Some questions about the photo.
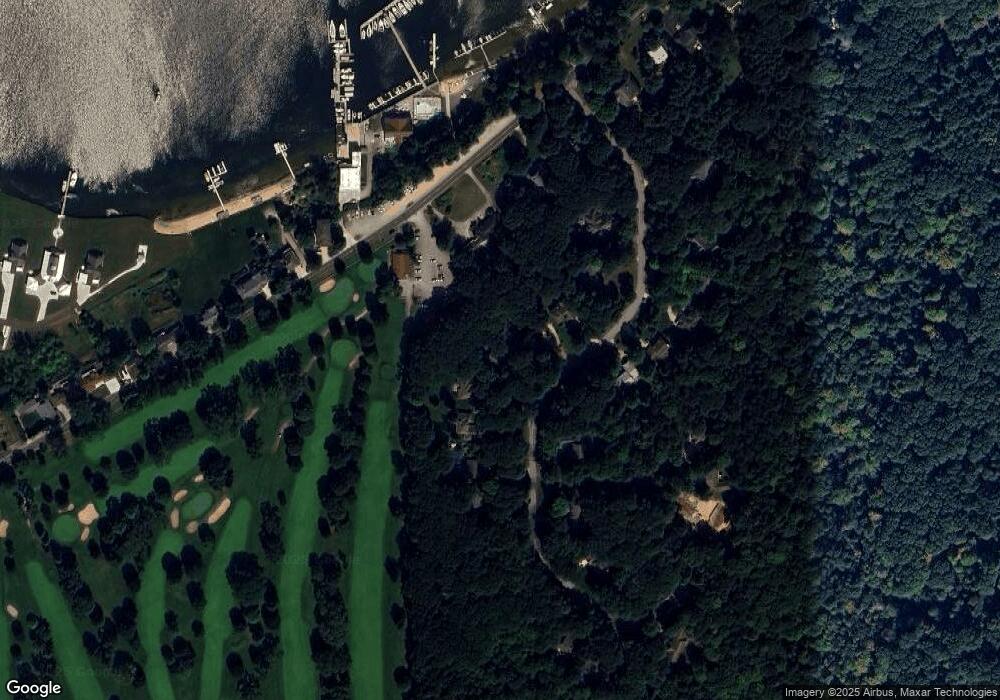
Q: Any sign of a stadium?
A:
No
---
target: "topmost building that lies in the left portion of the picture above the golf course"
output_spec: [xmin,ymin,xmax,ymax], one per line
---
[383,114,412,144]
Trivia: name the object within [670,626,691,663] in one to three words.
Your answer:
house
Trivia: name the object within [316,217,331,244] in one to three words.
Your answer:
house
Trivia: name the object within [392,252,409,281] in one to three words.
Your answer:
building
